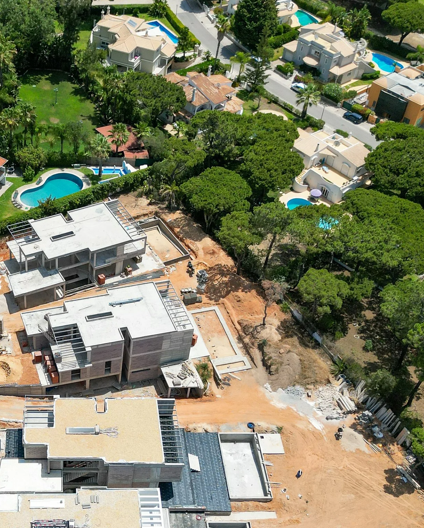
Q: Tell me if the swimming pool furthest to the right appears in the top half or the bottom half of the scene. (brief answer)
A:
top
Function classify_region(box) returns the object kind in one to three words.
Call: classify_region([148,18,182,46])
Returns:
swimming pool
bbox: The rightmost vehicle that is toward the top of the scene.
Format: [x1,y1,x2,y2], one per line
[341,104,368,122]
